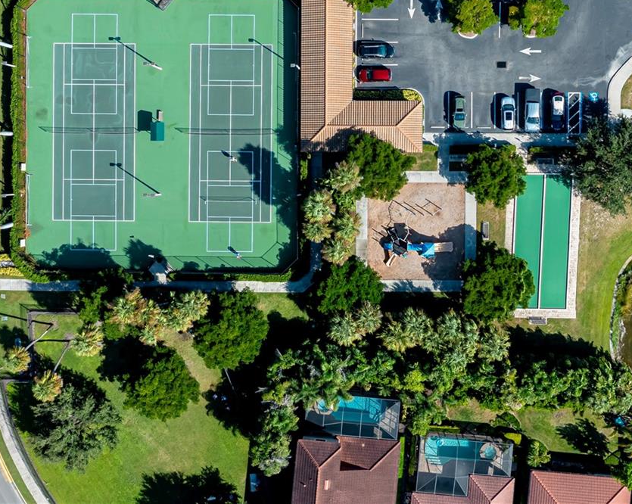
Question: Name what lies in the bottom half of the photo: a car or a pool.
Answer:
pool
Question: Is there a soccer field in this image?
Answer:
No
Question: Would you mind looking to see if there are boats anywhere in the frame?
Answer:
No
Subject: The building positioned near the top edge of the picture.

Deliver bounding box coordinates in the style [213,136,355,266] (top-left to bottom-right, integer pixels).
[299,0,425,153]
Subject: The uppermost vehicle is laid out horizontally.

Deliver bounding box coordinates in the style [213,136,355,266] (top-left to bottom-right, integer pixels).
[357,40,393,58]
